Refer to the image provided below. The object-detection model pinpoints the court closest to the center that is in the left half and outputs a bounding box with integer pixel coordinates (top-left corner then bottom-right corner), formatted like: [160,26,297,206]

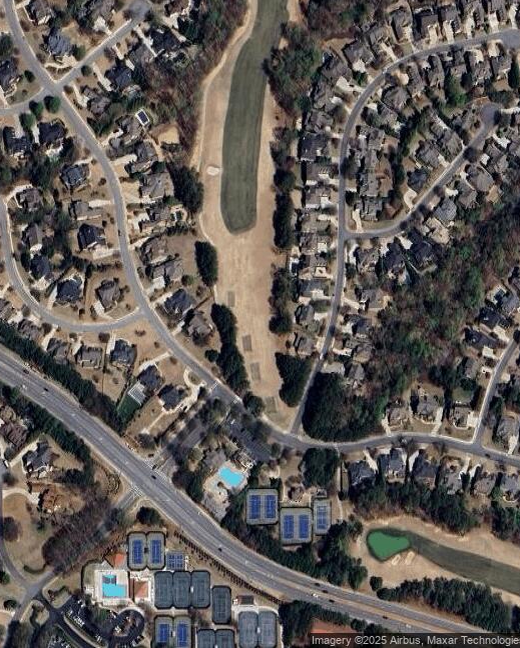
[118,387,147,422]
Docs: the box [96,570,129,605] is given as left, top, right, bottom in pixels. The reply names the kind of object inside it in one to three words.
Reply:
swimming pool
